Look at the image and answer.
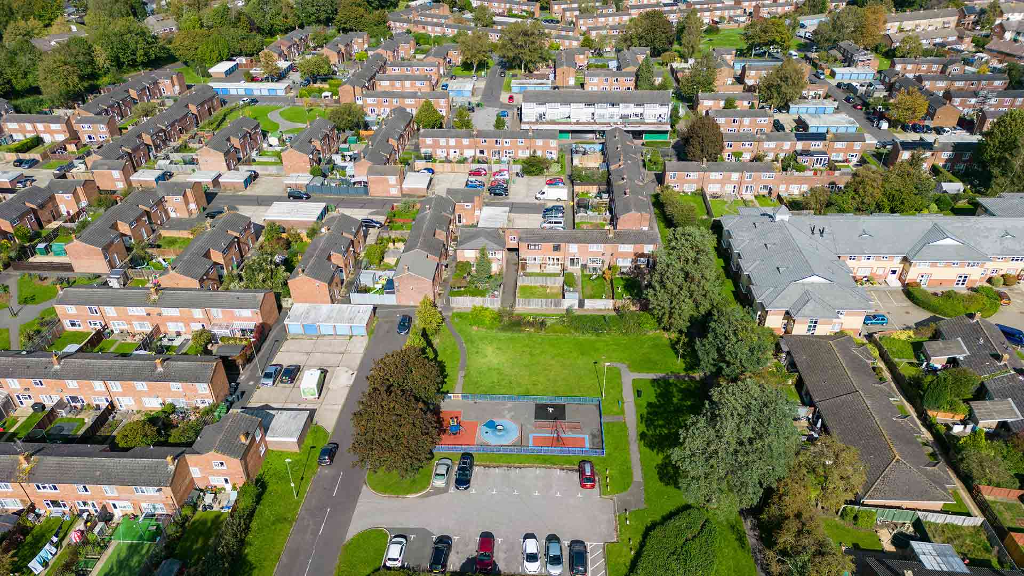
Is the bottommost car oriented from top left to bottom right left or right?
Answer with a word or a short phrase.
right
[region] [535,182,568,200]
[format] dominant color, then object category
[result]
white vehicle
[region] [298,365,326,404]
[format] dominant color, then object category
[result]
white trailer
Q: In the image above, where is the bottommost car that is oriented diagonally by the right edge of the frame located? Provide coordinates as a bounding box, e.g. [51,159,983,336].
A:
[997,324,1024,347]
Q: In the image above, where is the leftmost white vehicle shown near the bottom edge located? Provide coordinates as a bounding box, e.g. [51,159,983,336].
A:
[383,535,407,572]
